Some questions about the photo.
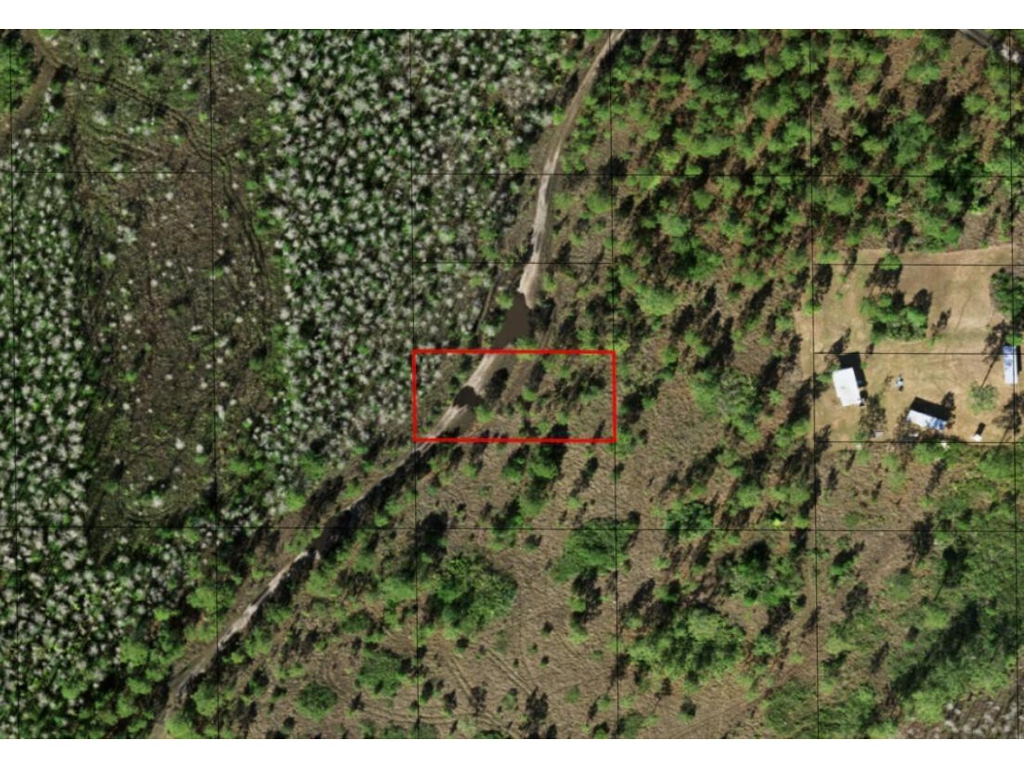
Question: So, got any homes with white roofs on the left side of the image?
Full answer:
No, no home with a white roof appears on the left side of the image.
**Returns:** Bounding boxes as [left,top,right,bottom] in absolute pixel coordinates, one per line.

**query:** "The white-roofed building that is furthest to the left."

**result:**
[833,367,861,407]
